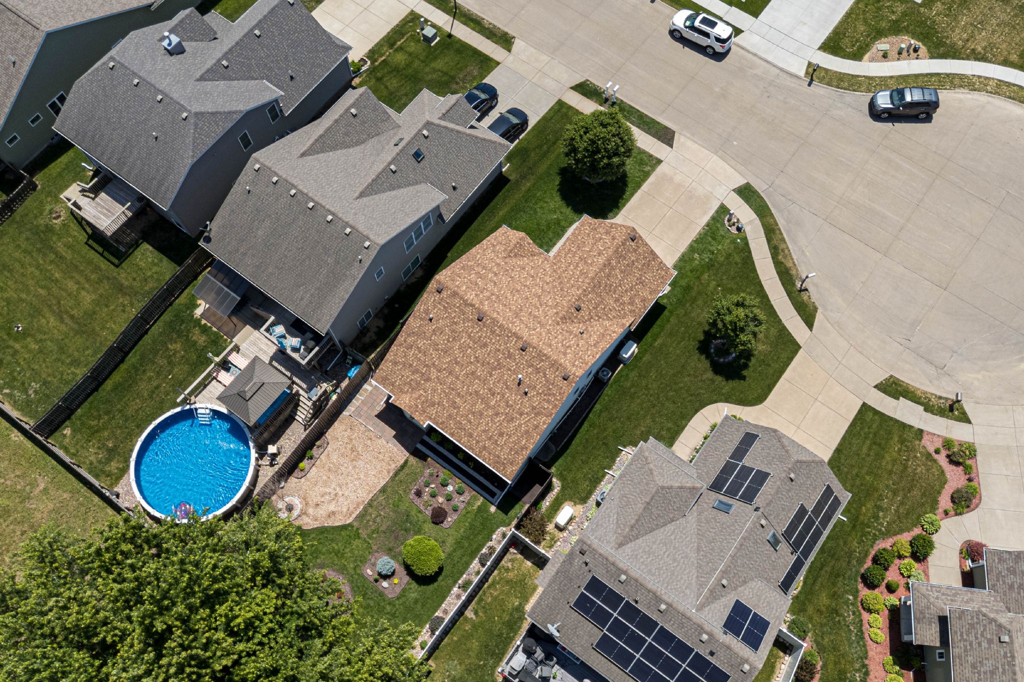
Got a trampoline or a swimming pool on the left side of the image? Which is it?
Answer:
swimming pool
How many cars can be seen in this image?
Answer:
4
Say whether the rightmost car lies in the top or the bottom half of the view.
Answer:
top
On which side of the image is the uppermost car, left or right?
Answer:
right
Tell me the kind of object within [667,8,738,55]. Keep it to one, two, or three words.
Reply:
car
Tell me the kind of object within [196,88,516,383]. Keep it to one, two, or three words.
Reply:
house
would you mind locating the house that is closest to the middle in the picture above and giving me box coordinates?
[371,216,678,494]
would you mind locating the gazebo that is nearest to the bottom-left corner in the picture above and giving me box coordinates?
[216,356,296,434]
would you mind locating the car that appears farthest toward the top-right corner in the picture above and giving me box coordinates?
[868,84,943,119]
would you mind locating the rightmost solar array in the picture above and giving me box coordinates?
[782,484,843,594]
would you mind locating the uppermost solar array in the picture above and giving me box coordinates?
[707,431,770,503]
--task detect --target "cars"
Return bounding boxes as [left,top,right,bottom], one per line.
[667,8,738,55]
[465,81,499,125]
[485,103,530,145]
[868,84,943,119]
